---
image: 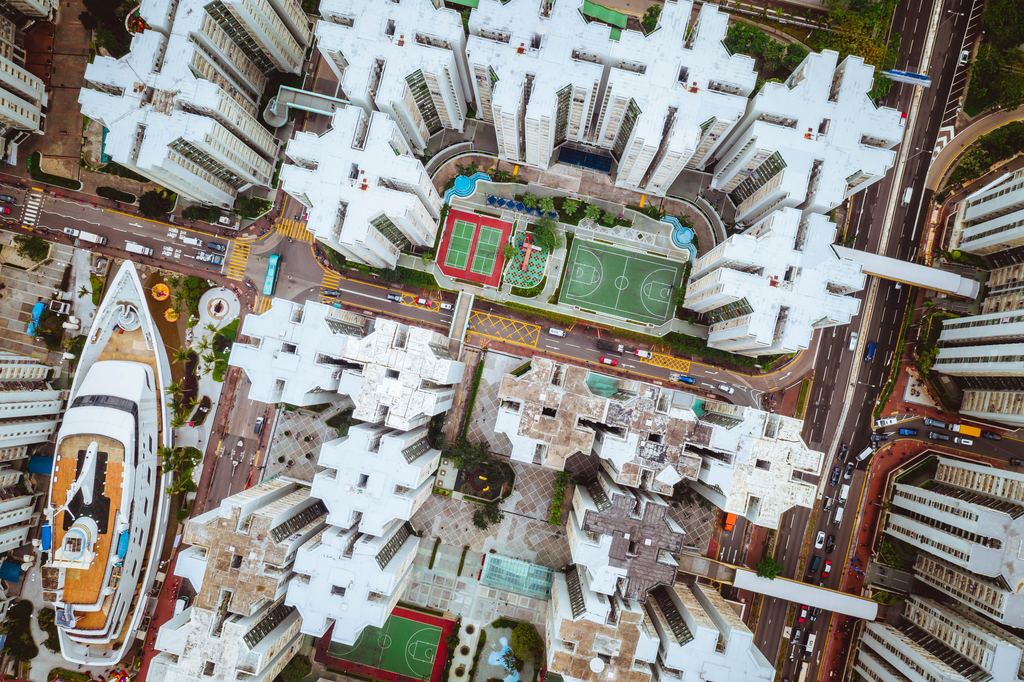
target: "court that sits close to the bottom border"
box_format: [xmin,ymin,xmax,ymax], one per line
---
[314,607,455,682]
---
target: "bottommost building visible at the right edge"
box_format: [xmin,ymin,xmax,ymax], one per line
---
[849,584,1024,682]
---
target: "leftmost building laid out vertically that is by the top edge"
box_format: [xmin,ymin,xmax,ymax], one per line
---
[0,29,55,159]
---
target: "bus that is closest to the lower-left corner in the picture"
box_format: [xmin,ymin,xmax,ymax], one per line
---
[173,593,193,620]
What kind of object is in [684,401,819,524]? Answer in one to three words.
building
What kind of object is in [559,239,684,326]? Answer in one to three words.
basketball court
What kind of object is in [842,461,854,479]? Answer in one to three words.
vehicle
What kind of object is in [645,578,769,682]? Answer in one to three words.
building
